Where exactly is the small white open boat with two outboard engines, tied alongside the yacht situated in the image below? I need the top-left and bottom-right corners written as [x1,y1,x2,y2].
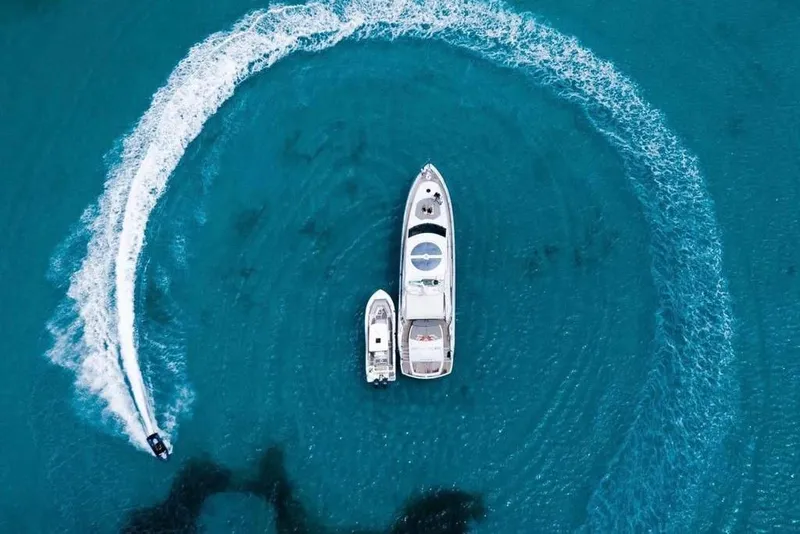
[365,289,396,385]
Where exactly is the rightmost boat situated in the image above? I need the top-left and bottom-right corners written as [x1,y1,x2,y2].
[399,162,455,379]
